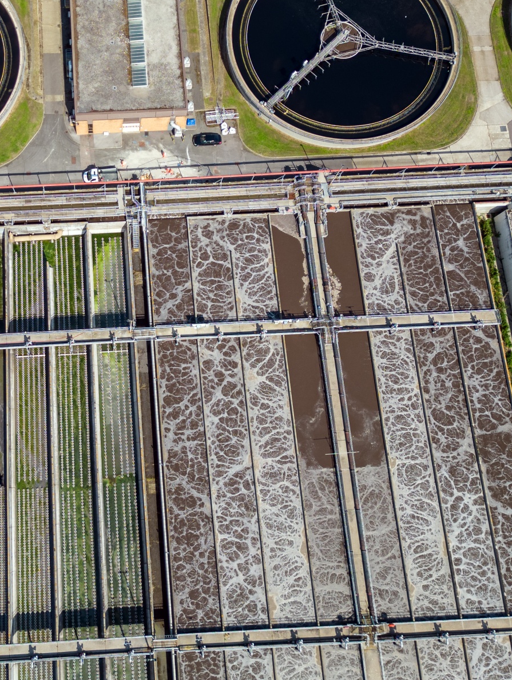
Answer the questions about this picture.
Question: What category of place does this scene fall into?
industrial area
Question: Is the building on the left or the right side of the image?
left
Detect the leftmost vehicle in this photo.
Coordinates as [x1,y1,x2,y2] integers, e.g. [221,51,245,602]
[83,167,120,183]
